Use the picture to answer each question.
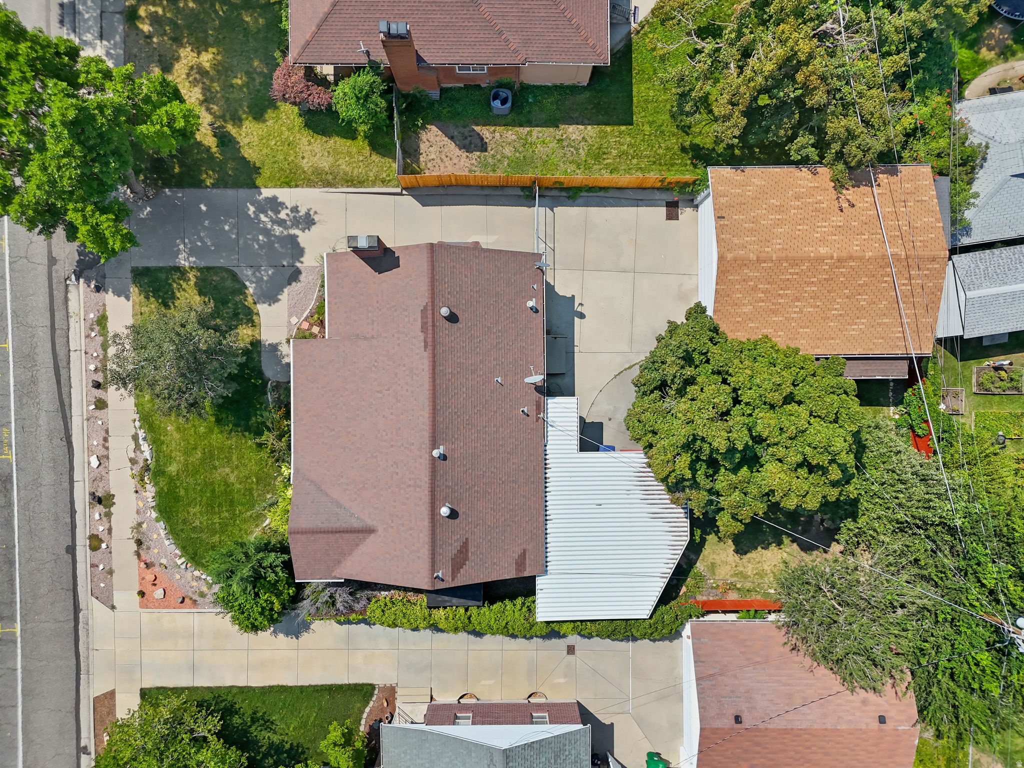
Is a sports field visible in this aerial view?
No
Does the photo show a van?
No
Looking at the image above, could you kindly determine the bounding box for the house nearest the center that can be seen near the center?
[287,235,548,608]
